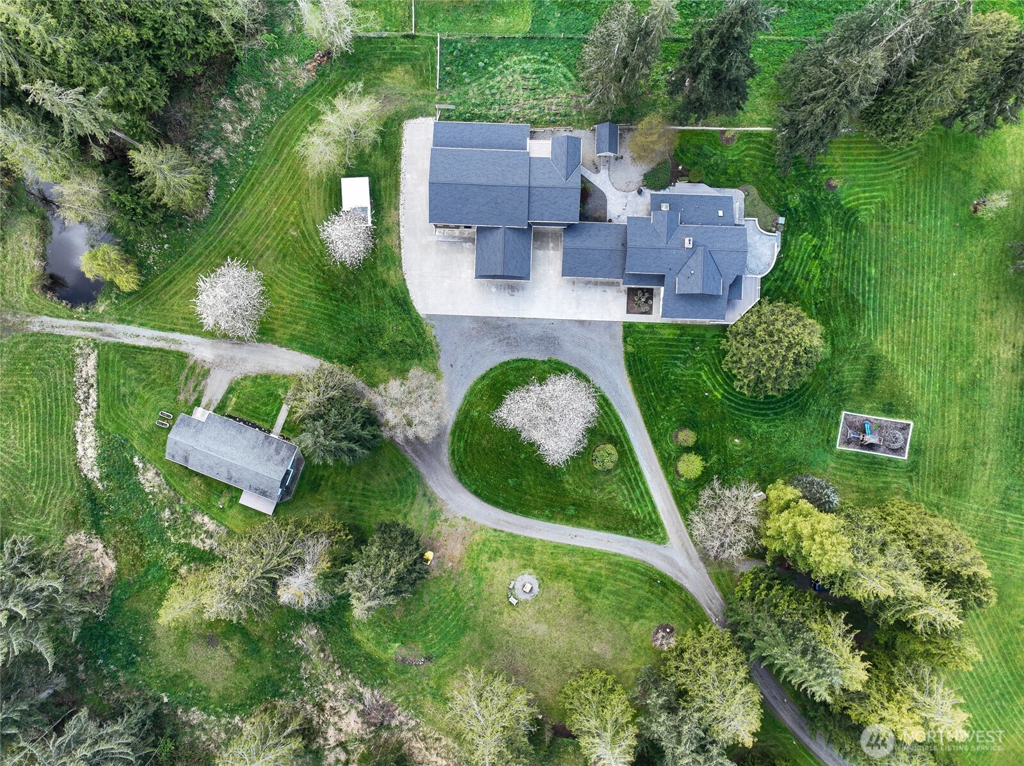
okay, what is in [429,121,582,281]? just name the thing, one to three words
building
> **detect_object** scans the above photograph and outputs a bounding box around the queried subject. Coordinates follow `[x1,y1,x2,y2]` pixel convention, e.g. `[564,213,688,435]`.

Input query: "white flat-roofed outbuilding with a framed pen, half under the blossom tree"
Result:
[341,177,374,228]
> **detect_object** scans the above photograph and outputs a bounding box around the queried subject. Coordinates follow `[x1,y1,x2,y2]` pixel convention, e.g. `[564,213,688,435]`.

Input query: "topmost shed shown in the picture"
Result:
[596,122,619,158]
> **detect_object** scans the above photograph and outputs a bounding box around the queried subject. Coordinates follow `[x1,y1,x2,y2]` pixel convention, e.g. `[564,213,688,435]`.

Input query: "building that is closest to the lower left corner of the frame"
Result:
[166,407,306,515]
